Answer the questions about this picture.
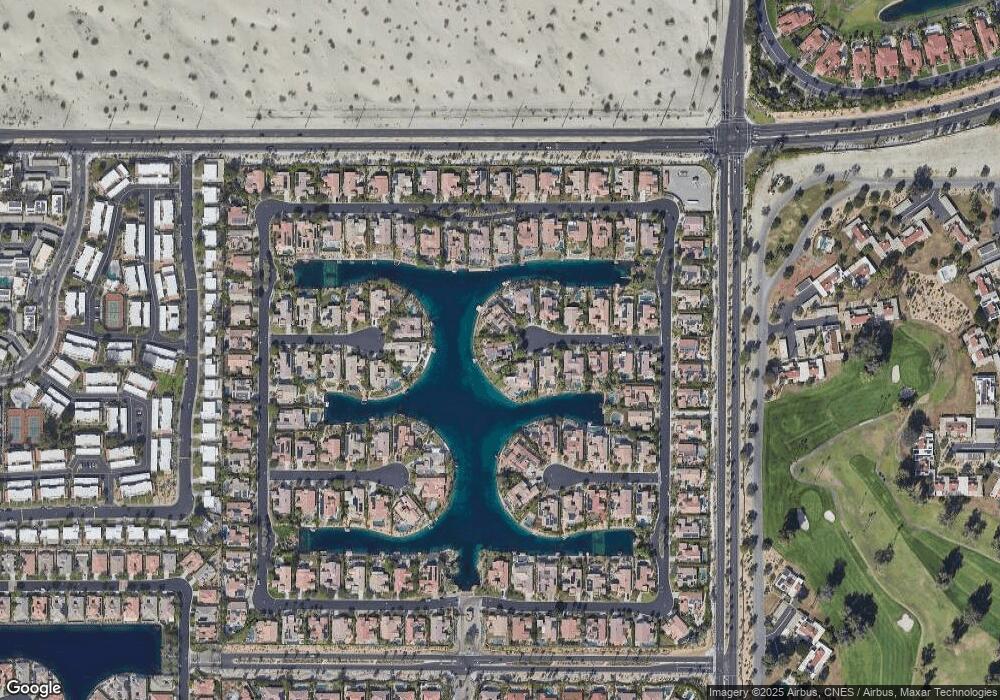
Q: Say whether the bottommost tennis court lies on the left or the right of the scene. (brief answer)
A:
left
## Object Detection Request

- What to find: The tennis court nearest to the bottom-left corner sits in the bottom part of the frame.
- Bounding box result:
[7,408,45,444]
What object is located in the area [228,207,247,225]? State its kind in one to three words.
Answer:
house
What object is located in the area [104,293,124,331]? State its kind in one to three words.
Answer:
tennis court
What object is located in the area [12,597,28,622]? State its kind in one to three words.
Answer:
house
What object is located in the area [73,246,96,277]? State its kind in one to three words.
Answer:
building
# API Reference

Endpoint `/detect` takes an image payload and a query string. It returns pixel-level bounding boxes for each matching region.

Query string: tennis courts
[7,408,45,444]
[104,293,124,331]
